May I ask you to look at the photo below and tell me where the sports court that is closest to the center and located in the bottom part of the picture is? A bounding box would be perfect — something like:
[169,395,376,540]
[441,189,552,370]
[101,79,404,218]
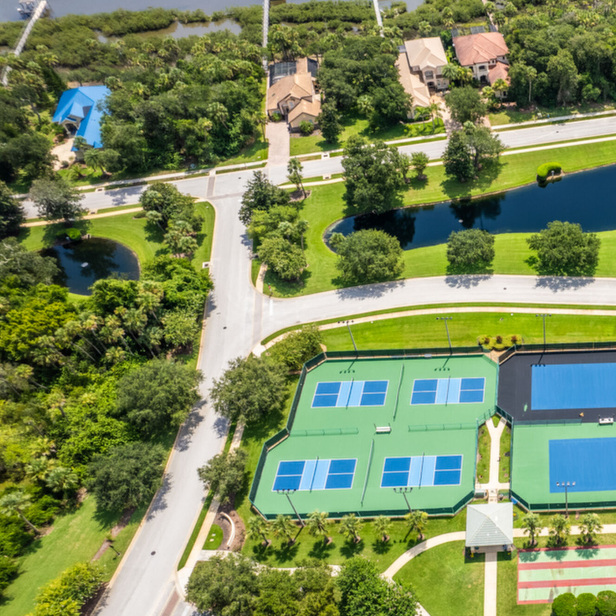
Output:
[311,377,389,408]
